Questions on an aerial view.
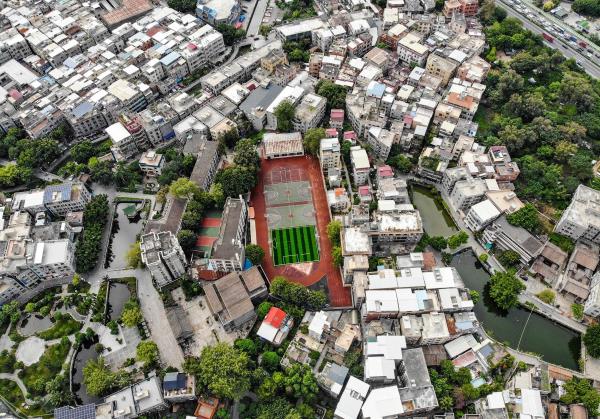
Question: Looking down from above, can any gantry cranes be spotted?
No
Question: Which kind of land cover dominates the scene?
buildings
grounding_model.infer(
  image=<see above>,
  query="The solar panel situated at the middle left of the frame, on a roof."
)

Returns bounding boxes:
[43,183,74,203]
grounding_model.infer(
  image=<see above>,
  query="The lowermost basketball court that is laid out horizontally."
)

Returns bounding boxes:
[267,205,315,229]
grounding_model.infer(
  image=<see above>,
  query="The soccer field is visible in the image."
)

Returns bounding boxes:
[272,226,319,265]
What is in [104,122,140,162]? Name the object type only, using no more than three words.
building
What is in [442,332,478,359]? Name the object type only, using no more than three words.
shed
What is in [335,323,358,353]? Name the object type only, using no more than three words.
house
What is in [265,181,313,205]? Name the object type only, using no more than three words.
basketball court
